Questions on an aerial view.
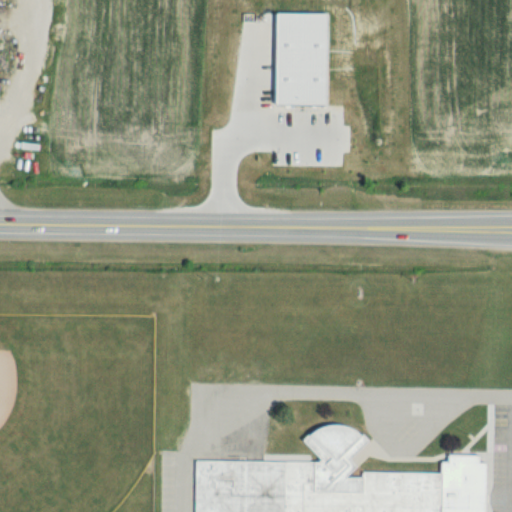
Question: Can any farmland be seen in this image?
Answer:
Yes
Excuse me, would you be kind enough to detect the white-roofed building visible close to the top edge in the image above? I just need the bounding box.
[276,12,330,108]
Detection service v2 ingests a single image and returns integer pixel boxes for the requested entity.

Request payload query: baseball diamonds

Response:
[0,316,156,512]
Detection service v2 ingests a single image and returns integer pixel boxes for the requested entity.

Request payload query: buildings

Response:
[276,12,330,108]
[196,424,487,512]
